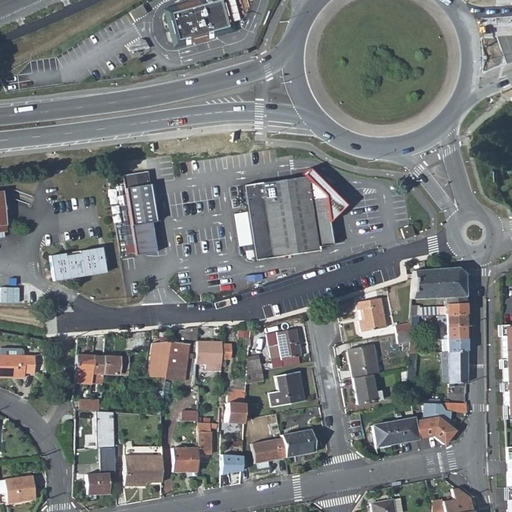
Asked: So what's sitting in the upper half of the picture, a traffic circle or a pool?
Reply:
traffic circle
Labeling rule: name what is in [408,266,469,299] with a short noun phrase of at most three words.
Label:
house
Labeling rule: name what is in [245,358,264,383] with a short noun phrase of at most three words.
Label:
shed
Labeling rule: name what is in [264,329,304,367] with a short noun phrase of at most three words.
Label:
house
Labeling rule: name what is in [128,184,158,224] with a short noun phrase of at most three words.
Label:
building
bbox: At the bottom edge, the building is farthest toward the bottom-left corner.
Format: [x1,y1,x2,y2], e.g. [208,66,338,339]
[5,474,36,504]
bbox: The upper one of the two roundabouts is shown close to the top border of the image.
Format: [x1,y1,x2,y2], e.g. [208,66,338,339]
[282,0,482,159]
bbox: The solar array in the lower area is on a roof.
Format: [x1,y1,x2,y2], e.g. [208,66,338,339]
[276,334,290,358]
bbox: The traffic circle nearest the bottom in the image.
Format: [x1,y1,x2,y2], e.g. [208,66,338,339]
[446,204,502,260]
